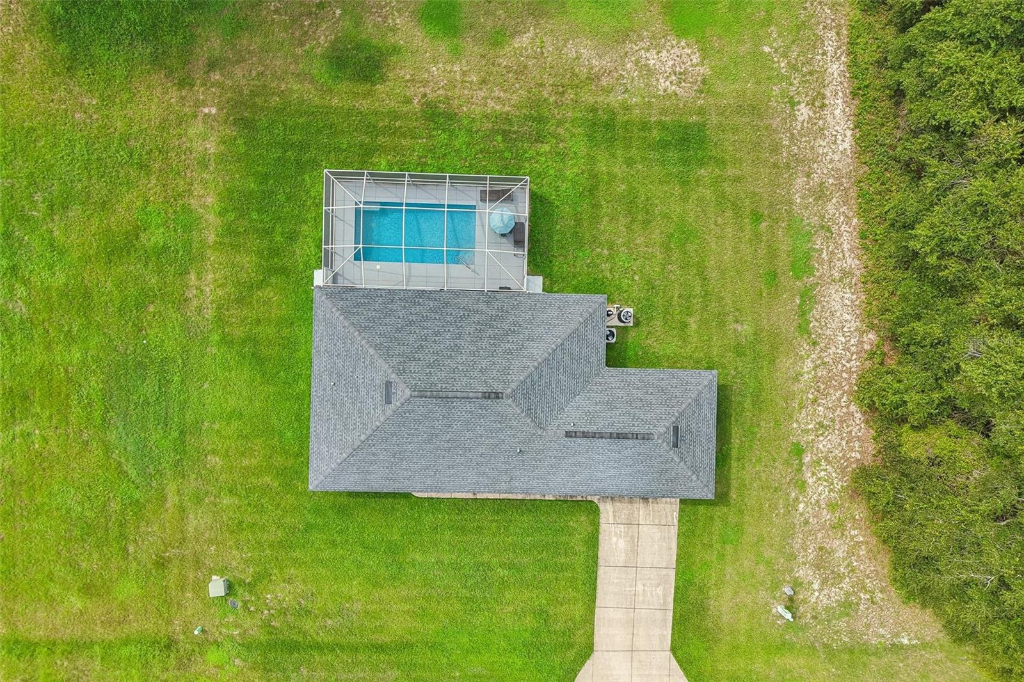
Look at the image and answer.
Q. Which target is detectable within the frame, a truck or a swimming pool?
swimming pool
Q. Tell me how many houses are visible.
1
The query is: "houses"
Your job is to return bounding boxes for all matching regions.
[307,285,719,499]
